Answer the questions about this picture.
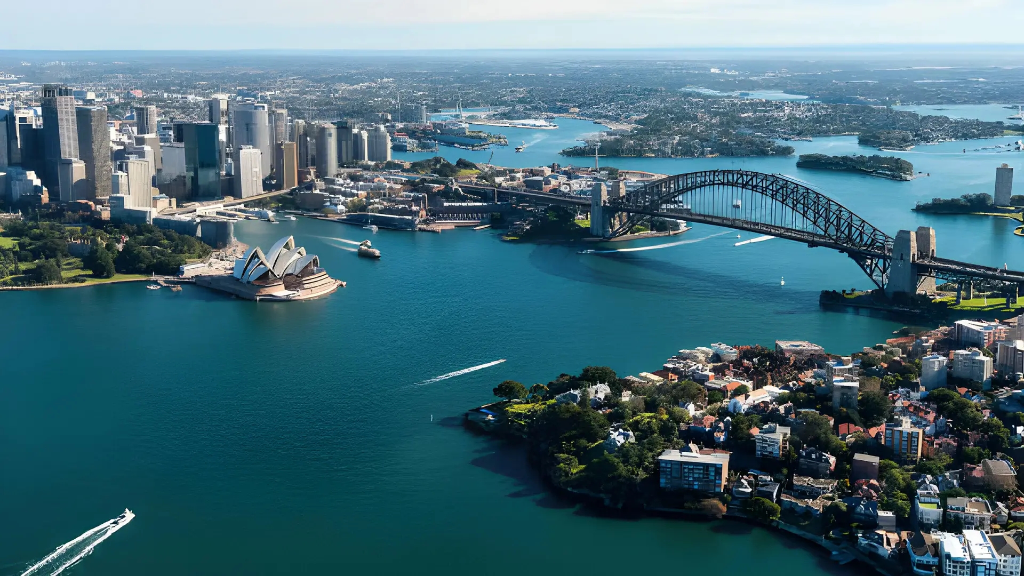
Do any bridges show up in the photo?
Yes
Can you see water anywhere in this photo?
Yes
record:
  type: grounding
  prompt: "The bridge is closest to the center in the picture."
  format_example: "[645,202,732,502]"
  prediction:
[432,181,591,226]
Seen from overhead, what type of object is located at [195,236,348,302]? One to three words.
building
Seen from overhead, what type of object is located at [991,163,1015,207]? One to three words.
building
